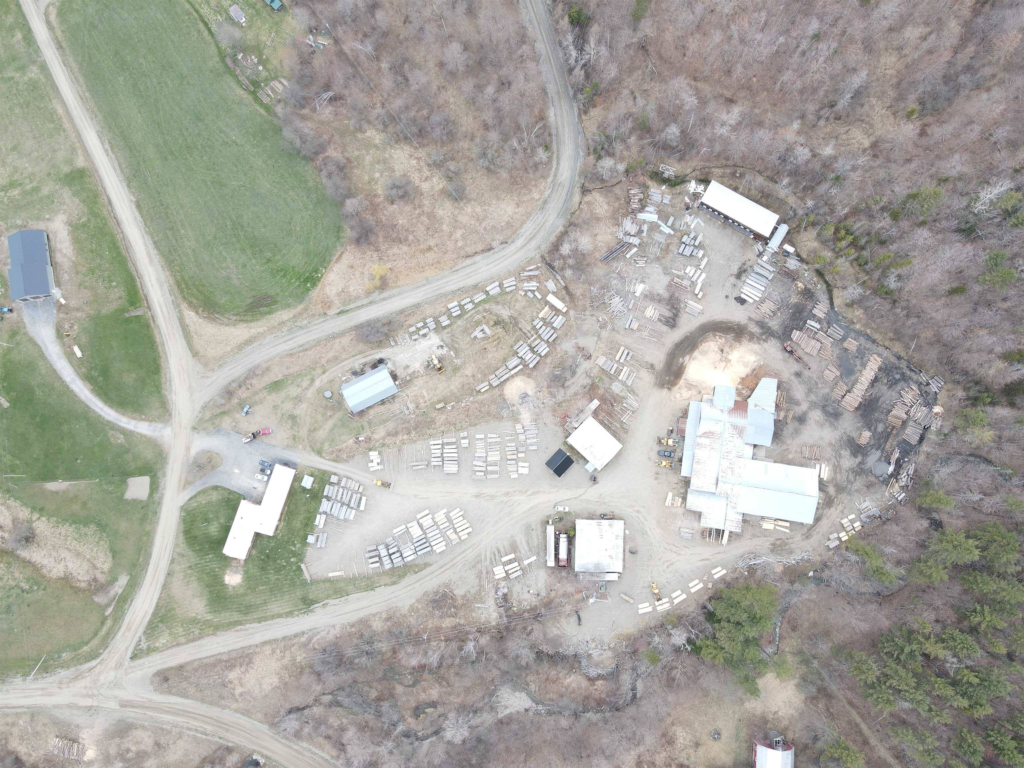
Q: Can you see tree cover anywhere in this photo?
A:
Yes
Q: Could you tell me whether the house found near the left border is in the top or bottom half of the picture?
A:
top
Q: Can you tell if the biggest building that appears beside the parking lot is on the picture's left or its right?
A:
left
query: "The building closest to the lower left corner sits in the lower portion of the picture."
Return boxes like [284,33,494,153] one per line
[223,464,297,560]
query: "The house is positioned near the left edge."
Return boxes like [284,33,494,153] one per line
[7,231,55,301]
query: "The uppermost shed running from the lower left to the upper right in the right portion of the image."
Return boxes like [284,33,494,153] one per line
[766,224,789,251]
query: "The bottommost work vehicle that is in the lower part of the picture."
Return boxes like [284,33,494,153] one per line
[650,583,663,605]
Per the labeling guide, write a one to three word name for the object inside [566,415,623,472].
building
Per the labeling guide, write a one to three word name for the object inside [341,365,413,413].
building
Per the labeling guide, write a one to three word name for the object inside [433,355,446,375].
vehicle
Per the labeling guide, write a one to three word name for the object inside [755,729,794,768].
barn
